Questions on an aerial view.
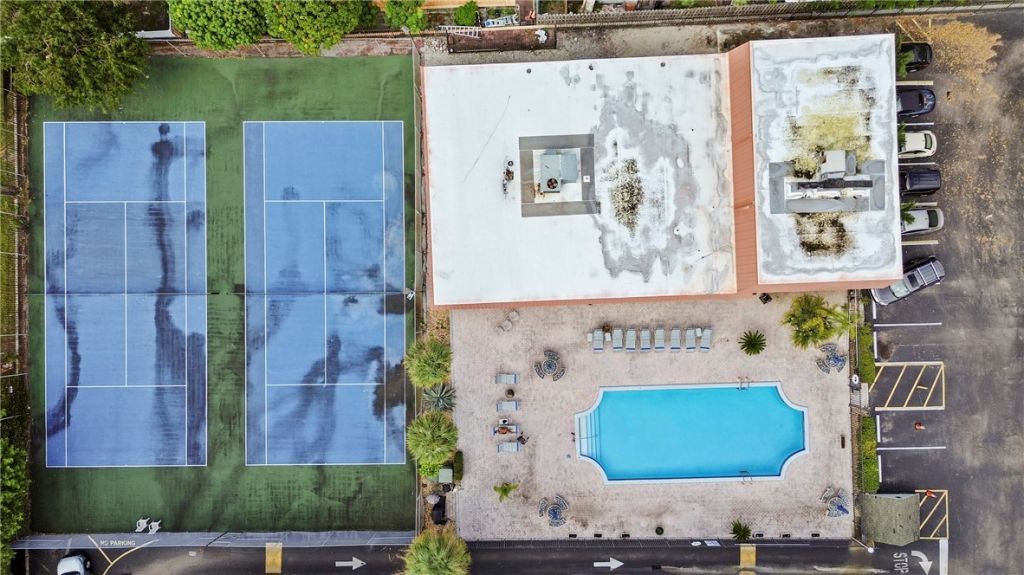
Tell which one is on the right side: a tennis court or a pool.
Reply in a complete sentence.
It is a pool that can be seen on the right side.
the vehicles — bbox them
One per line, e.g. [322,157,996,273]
[897,131,934,160]
[896,89,932,119]
[58,552,90,575]
[900,207,939,236]
[871,257,946,305]
[899,168,940,198]
[894,45,934,77]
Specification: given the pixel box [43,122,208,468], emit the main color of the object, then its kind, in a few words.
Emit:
blue tennis court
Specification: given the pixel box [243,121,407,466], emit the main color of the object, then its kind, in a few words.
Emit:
blue tennis court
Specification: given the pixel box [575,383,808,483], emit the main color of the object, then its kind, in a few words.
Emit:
blue swimming pool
